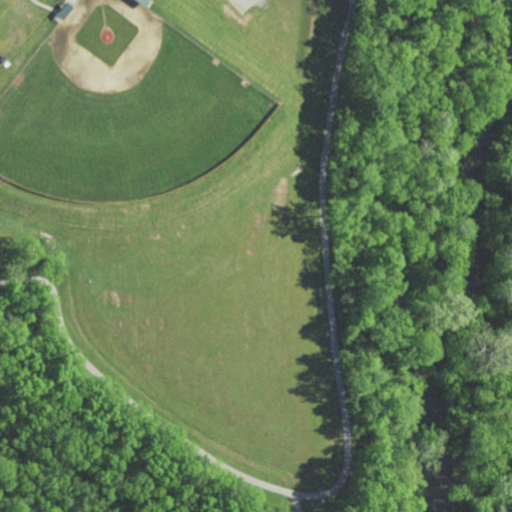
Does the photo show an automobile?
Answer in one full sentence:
No, no automobile can be seen from above.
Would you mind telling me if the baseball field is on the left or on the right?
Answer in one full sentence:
The baseball field is on the left side of the image.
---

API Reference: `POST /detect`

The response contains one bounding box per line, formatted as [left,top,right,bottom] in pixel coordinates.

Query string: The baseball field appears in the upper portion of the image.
[0,0,278,202]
